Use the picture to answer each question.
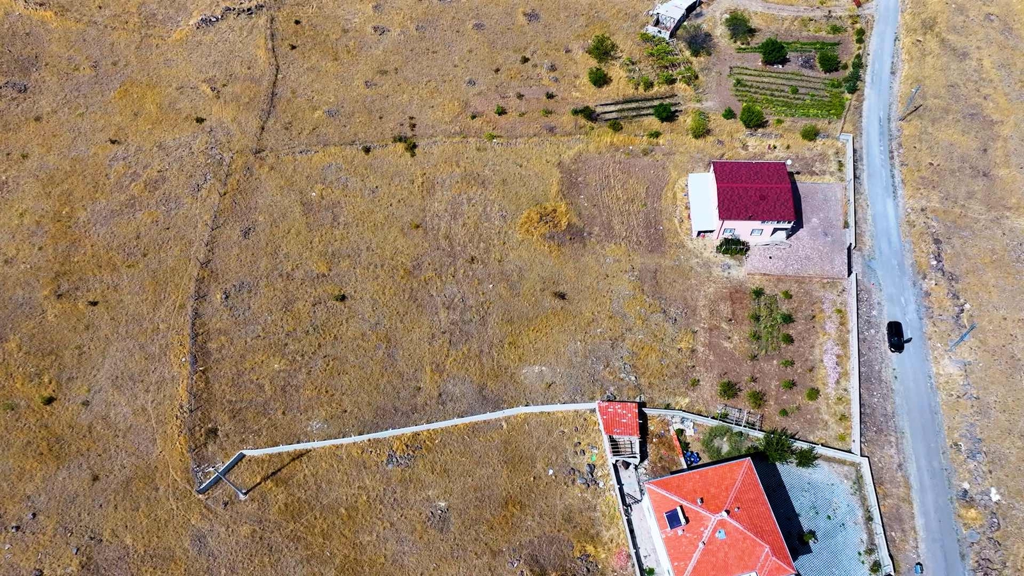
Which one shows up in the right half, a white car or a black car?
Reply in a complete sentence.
You can see a black car in the right half.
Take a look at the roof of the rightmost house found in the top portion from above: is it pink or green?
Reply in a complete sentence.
The roof of the rightmost house found in the top portion is pink.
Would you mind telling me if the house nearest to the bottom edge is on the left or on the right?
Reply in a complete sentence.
The house nearest to the bottom edge is on the right side of the image.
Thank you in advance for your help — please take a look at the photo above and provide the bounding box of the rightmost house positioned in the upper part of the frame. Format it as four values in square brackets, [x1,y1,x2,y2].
[708,160,799,251]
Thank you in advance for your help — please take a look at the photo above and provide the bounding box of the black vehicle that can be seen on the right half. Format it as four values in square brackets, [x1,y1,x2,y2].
[884,322,911,355]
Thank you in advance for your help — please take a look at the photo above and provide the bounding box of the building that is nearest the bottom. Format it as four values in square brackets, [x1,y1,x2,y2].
[644,456,803,576]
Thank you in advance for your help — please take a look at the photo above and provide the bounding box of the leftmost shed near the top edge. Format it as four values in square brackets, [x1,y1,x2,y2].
[642,0,698,47]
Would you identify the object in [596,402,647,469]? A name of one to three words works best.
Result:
shed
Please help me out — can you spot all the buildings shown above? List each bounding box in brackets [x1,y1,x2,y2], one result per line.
[642,0,698,47]
[708,160,799,251]
[596,402,647,469]
[644,456,803,576]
